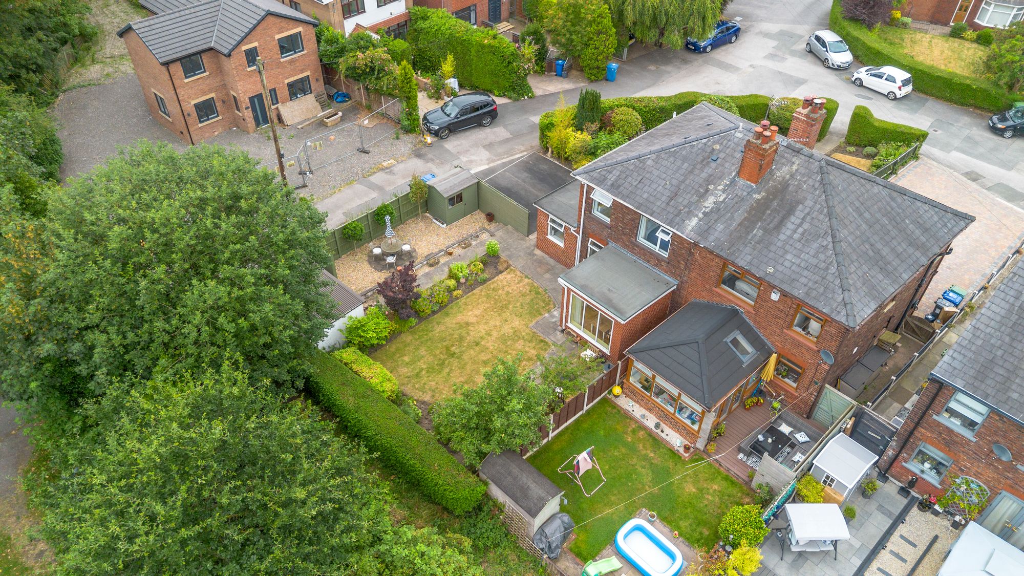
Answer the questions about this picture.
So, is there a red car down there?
No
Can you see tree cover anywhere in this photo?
Yes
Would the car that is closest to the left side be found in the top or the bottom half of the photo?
top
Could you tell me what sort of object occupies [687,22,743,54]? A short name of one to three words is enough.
car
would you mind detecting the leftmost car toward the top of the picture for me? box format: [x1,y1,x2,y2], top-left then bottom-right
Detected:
[420,91,500,140]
